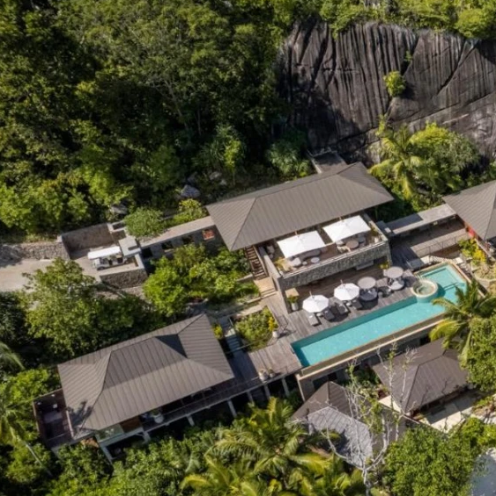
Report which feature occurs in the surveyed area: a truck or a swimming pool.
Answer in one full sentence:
This aerial view contains a swimming pool.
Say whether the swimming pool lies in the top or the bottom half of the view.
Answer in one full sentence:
The bottom half of the photo is where the swimming pool is.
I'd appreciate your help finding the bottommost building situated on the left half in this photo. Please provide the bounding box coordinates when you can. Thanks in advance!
[59,312,301,465]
